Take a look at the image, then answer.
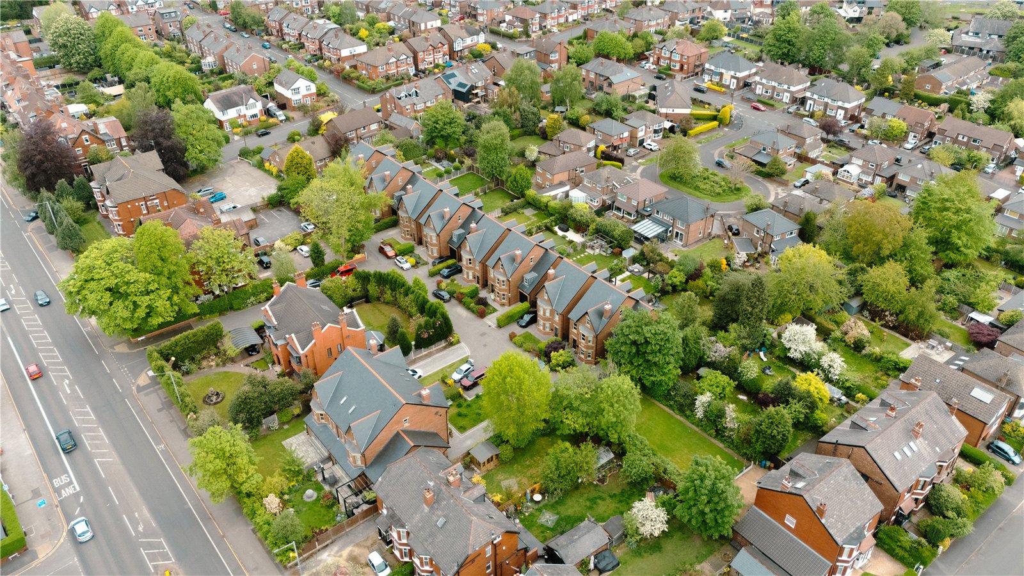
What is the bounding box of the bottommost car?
[364,545,392,576]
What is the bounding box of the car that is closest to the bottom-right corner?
[987,439,1023,465]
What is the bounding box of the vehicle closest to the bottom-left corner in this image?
[68,515,94,547]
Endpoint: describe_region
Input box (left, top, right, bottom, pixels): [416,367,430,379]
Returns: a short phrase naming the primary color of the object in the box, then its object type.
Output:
white vehicle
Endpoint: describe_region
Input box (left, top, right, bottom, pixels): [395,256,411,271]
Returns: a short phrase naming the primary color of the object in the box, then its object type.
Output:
white car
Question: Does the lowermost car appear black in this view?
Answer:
No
